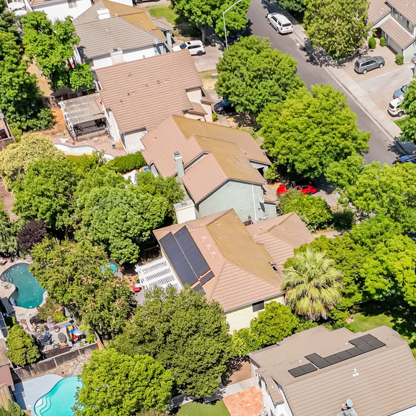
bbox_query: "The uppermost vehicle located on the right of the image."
[267,12,293,32]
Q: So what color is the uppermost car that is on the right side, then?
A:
white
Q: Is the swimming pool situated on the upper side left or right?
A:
left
